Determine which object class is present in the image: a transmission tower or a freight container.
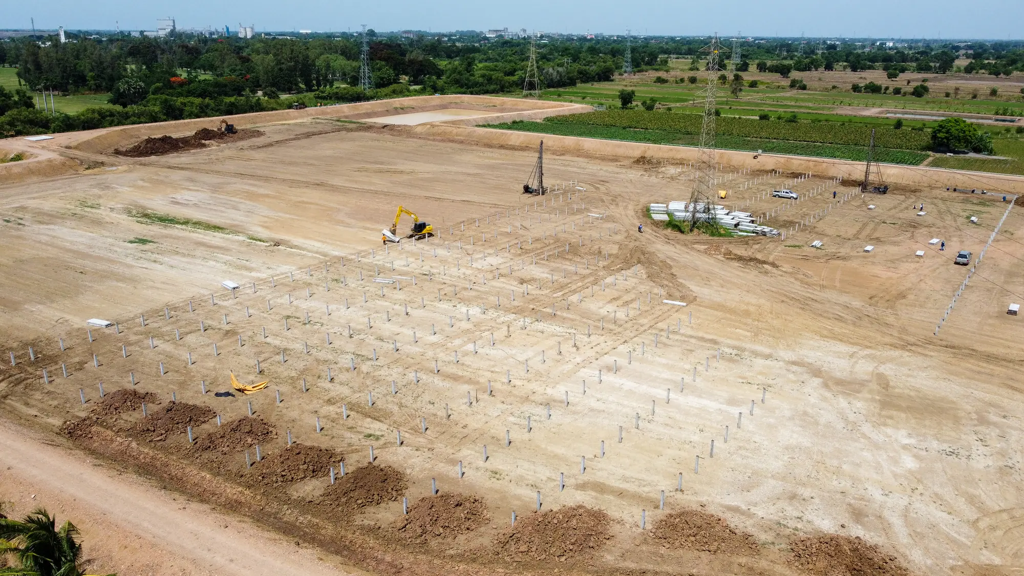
transmission tower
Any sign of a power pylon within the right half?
Yes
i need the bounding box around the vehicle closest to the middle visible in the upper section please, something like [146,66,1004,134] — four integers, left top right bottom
[389,209,439,240]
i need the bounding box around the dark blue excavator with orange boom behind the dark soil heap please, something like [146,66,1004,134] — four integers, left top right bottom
[209,116,236,133]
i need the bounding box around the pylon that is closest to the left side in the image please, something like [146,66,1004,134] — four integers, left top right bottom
[353,23,370,87]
